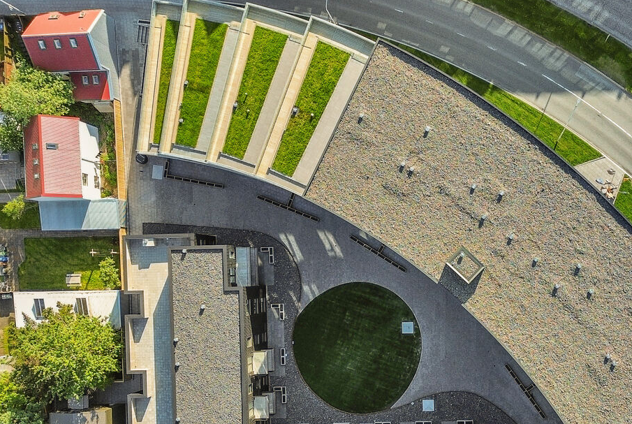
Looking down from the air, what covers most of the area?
buildings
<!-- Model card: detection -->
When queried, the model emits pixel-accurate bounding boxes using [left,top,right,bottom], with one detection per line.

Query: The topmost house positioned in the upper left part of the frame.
[20,9,118,104]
